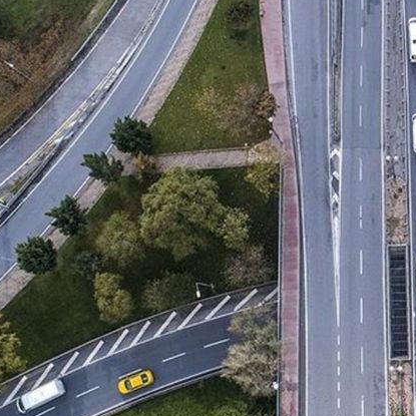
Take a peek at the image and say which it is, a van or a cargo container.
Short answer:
van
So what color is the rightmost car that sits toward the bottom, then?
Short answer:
yellow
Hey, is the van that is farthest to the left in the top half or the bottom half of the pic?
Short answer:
bottom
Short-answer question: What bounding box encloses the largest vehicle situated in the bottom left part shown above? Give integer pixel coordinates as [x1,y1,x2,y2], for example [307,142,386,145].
[21,377,71,410]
